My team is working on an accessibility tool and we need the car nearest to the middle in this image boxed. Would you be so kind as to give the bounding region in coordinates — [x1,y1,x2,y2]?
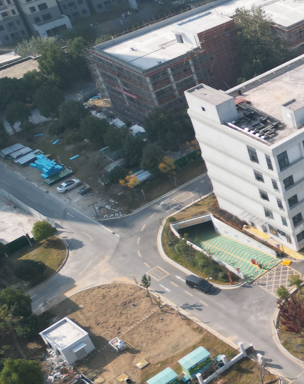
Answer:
[56,180,82,194]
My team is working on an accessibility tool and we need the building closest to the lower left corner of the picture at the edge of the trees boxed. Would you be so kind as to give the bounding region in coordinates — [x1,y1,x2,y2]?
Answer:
[41,317,94,364]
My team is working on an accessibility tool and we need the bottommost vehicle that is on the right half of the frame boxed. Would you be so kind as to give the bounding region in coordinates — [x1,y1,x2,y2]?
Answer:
[185,271,214,294]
